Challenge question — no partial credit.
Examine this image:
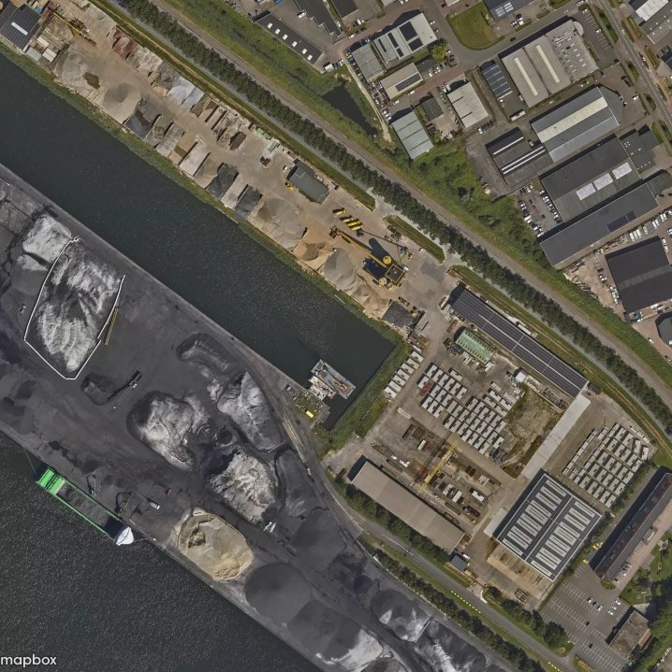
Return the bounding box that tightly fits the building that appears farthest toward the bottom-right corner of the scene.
[609,610,646,659]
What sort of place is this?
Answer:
port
